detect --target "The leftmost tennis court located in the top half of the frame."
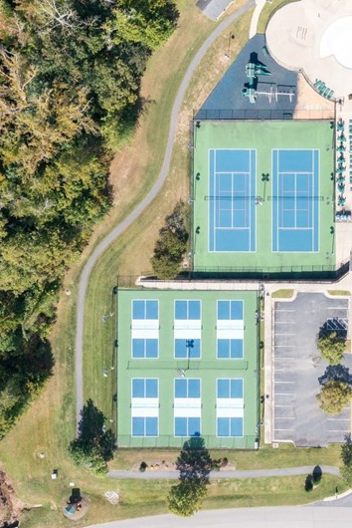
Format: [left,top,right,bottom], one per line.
[194,121,263,275]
